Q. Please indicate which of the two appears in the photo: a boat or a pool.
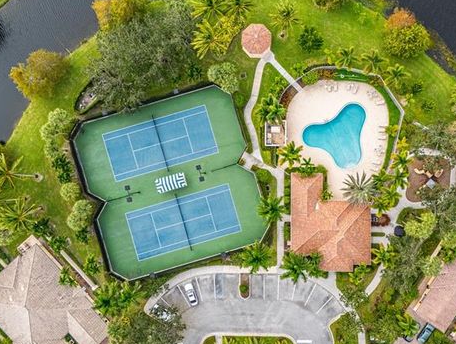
pool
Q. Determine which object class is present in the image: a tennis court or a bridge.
tennis court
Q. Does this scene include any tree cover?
Yes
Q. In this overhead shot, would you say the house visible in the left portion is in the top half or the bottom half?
bottom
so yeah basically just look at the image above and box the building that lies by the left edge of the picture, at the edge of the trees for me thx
[0,243,110,344]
